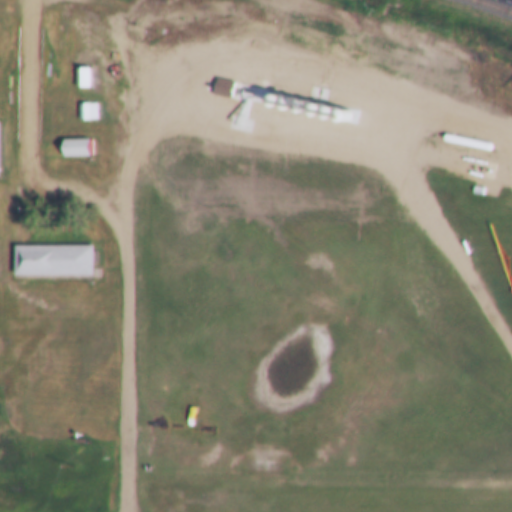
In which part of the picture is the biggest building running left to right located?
left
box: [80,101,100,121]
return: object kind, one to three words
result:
shed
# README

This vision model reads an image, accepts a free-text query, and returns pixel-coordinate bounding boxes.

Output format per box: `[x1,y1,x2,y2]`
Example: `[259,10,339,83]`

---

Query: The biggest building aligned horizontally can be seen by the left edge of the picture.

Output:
[14,244,102,278]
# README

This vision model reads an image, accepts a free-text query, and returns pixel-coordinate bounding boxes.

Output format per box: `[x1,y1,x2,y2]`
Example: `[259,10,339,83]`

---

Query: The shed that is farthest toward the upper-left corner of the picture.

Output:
[78,66,92,88]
